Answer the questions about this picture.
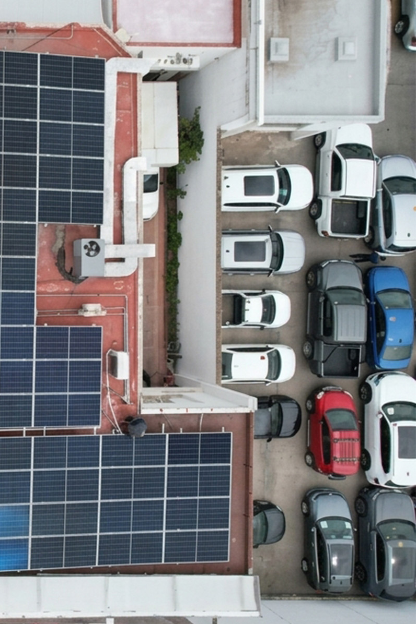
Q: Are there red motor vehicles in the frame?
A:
Yes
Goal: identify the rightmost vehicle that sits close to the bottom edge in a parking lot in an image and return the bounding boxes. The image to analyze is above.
[355,488,416,597]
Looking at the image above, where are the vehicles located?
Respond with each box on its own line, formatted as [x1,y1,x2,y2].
[306,261,369,376]
[253,497,286,547]
[355,488,416,597]
[364,154,416,257]
[224,226,307,274]
[384,0,416,53]
[359,372,416,484]
[359,266,416,367]
[142,169,170,221]
[224,288,292,330]
[311,128,376,237]
[305,387,366,481]
[224,162,316,212]
[297,488,360,592]
[247,394,303,440]
[211,342,296,386]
